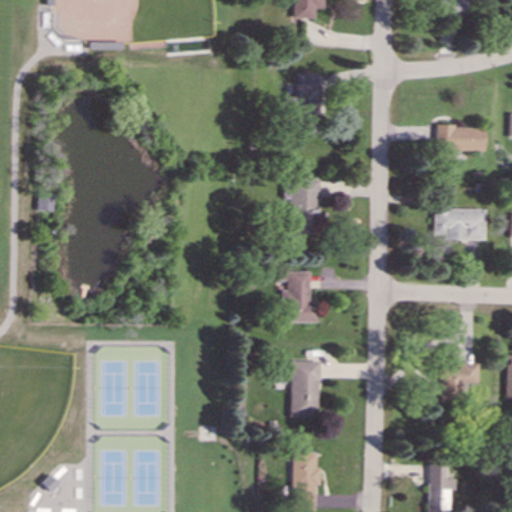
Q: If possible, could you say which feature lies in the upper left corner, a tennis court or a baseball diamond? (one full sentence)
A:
You can see a baseball diamond in the upper left corner.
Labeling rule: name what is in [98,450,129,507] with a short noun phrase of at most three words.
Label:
tennis court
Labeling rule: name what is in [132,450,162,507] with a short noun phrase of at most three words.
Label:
tennis court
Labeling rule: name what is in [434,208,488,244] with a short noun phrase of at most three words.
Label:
house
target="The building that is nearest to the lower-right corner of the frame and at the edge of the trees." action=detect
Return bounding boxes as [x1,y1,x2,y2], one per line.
[430,466,458,512]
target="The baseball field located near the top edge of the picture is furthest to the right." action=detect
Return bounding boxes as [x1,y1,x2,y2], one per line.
[54,0,214,50]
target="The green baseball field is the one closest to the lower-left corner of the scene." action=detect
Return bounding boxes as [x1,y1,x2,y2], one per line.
[0,347,74,489]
